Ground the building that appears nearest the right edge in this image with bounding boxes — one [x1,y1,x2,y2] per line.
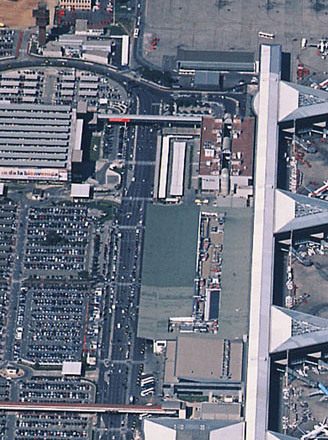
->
[246,43,281,440]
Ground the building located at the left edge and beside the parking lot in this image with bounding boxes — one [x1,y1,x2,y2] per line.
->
[0,103,77,184]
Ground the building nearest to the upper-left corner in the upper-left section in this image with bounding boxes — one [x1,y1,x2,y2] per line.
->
[33,8,50,46]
